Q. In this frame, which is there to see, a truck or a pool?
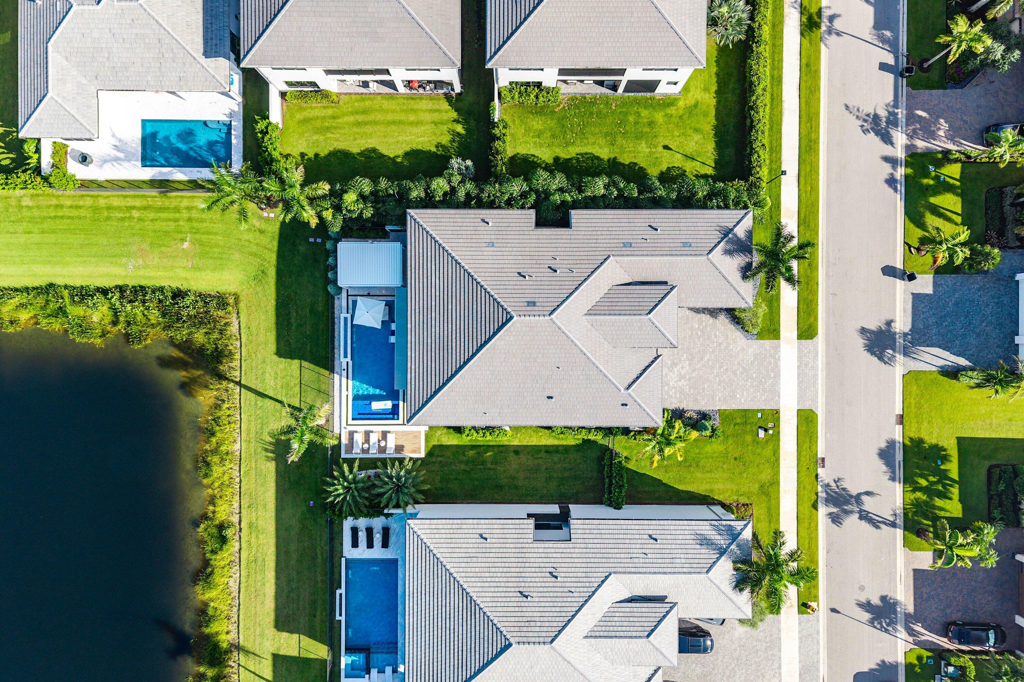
pool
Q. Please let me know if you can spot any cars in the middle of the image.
No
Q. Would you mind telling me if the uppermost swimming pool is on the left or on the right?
left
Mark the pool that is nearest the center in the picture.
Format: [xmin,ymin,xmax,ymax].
[352,300,400,421]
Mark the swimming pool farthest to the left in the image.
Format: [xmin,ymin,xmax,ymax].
[141,119,233,168]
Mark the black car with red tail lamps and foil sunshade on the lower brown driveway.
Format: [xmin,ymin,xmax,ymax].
[946,619,1003,649]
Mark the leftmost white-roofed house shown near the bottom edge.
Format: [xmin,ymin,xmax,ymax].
[405,503,753,682]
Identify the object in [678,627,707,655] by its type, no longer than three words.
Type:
car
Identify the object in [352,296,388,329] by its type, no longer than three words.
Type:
umbrella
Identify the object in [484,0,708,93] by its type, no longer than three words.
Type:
house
